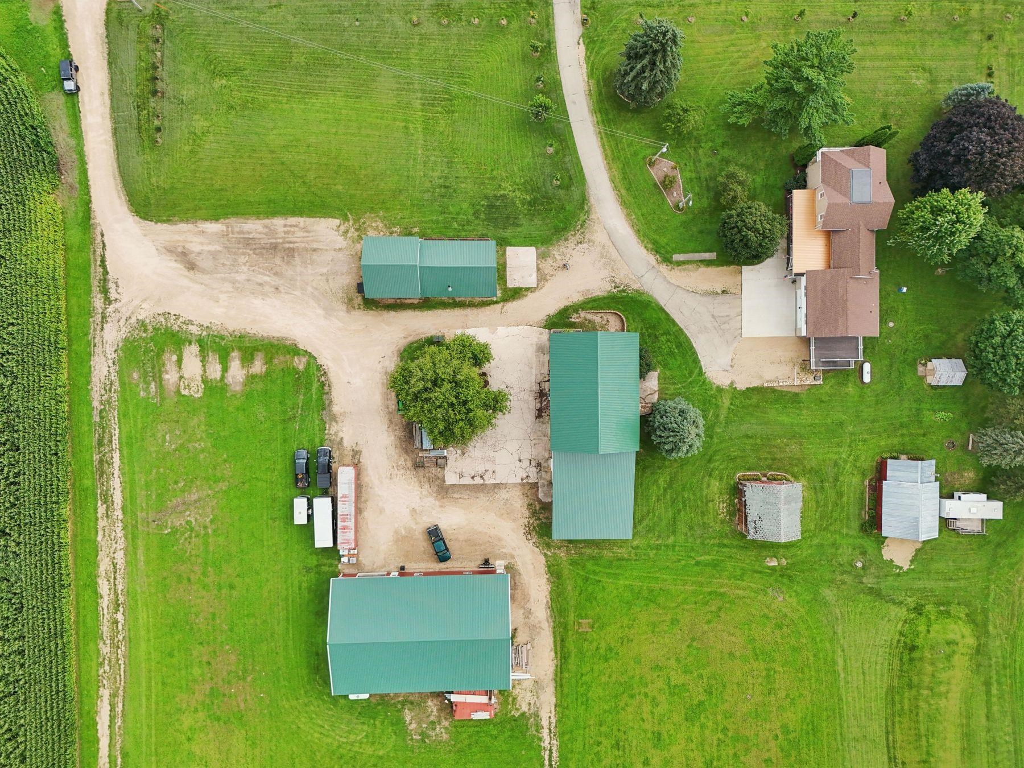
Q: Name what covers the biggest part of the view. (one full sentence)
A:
The bulk of the photo consists of grass.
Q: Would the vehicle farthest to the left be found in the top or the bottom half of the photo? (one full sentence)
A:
The vehicle farthest to the left sits in the top half of the picture.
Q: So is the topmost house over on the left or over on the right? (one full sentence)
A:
The topmost house sits on the right side.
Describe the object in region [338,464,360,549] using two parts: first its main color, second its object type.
white trailer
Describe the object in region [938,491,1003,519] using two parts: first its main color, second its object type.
white camper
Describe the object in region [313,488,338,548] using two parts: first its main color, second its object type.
white trailer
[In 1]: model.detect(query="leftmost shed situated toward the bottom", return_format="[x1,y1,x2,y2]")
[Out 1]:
[326,568,512,695]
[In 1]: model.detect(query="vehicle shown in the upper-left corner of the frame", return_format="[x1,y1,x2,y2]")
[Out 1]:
[56,61,78,95]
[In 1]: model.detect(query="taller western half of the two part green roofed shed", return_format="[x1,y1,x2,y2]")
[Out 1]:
[361,236,422,298]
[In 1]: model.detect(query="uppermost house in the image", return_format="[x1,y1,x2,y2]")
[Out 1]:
[807,145,895,231]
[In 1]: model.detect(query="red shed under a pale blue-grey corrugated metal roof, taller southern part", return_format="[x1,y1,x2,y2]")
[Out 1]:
[875,481,939,541]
